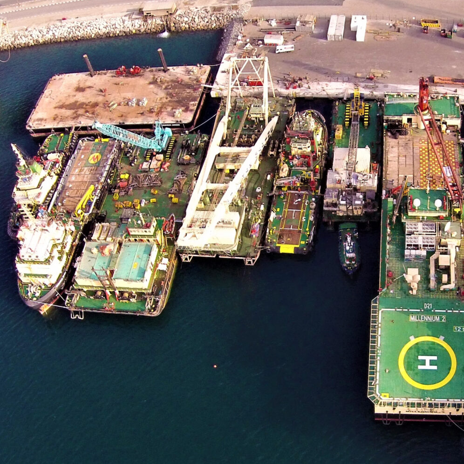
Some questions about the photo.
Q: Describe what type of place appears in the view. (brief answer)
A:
port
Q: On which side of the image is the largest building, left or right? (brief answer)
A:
left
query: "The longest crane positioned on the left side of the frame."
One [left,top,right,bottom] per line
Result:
[96,121,180,161]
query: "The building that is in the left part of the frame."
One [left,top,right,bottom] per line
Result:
[143,1,177,34]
